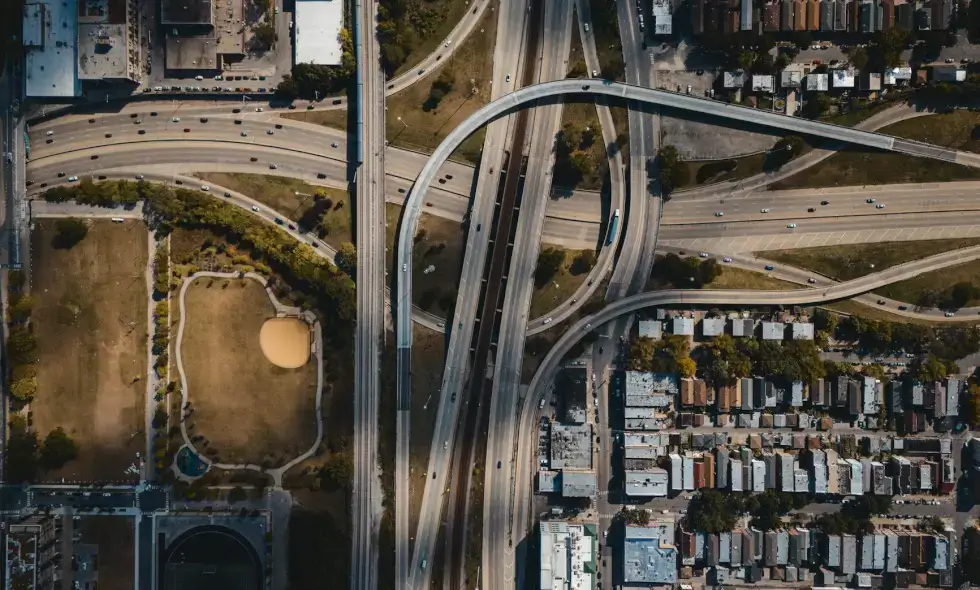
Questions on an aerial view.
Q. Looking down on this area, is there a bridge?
Yes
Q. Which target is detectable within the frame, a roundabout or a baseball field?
baseball field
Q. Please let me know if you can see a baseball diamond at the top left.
No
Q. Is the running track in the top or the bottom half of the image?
bottom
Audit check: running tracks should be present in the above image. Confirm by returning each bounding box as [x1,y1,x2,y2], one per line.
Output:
[157,516,266,590]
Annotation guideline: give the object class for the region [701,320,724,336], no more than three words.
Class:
house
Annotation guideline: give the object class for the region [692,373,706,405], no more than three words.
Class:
house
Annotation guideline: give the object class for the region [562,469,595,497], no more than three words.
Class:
building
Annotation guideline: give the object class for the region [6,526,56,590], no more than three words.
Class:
building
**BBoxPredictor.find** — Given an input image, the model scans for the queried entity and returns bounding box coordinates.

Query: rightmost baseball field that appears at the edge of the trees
[260,318,310,368]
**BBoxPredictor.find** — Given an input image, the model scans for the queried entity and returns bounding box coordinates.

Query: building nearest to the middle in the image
[555,365,586,409]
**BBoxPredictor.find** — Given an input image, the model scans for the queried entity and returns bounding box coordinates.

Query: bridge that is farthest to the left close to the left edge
[0,102,32,300]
